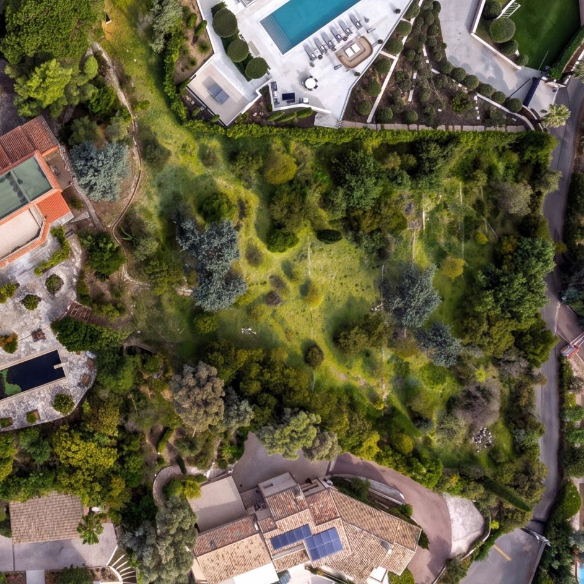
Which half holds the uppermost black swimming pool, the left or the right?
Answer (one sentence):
The uppermost black swimming pool sits on the left side.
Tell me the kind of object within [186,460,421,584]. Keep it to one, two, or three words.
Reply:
house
